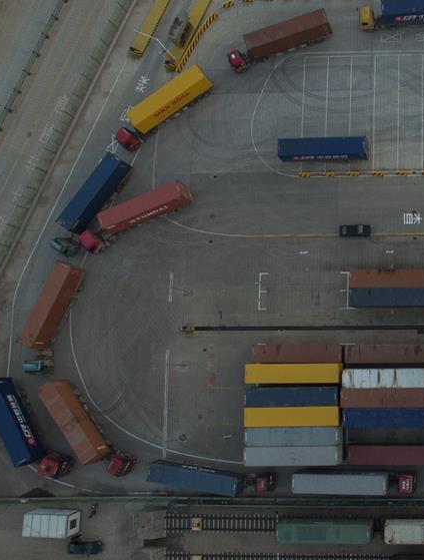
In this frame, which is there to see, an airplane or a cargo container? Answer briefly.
cargo container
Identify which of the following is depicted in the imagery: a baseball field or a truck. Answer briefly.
truck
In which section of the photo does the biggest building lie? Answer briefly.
bottom left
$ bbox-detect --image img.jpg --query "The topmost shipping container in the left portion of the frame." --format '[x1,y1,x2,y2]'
[126,63,211,134]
